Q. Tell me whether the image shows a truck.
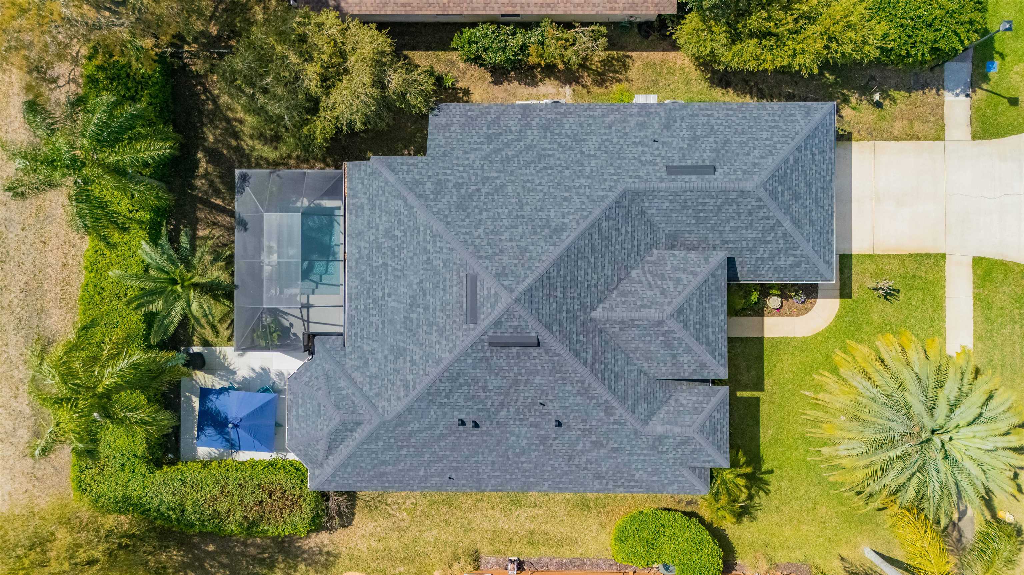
No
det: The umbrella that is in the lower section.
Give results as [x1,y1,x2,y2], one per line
[197,387,279,460]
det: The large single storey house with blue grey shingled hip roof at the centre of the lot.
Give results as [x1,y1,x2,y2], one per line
[284,102,836,495]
